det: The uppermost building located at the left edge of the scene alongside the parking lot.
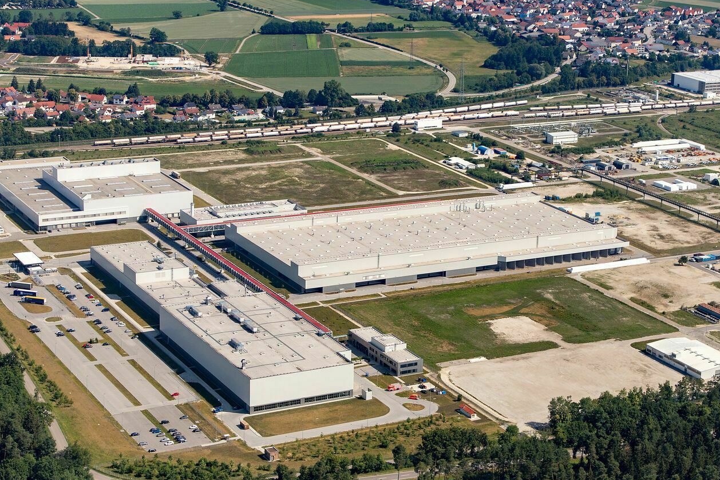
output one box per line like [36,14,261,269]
[0,158,192,231]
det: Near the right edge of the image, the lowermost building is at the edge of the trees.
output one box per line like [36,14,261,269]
[631,331,720,379]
